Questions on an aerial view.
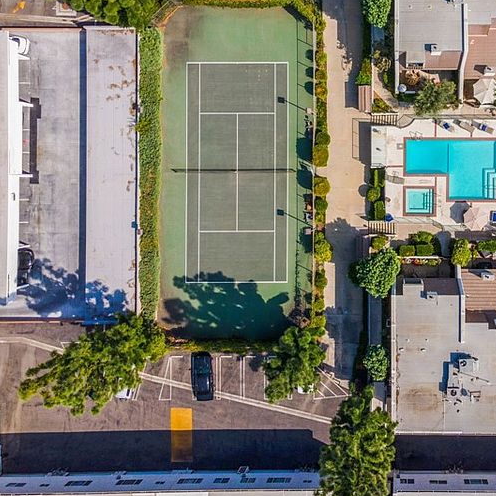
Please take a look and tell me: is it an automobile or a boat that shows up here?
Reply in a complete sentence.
Looking from above, you can make out an automobile.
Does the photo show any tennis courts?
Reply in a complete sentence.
Yes, the image includes a tennis court.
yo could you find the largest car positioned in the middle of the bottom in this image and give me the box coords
[189,353,215,400]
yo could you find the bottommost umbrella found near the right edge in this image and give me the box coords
[463,204,488,229]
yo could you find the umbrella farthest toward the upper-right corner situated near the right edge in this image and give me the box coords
[472,80,496,106]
